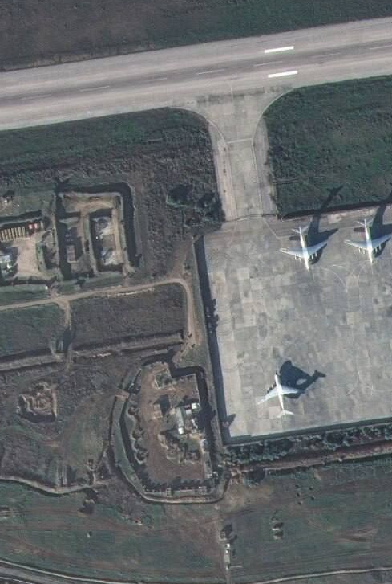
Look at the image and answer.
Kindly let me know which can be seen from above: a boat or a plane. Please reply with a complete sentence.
There is a plane in the scene.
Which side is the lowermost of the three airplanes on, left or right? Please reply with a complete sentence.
The lowermost of the three airplanes appears in the right half of the scene.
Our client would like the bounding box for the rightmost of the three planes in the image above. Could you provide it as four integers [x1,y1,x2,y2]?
[343,220,391,265]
